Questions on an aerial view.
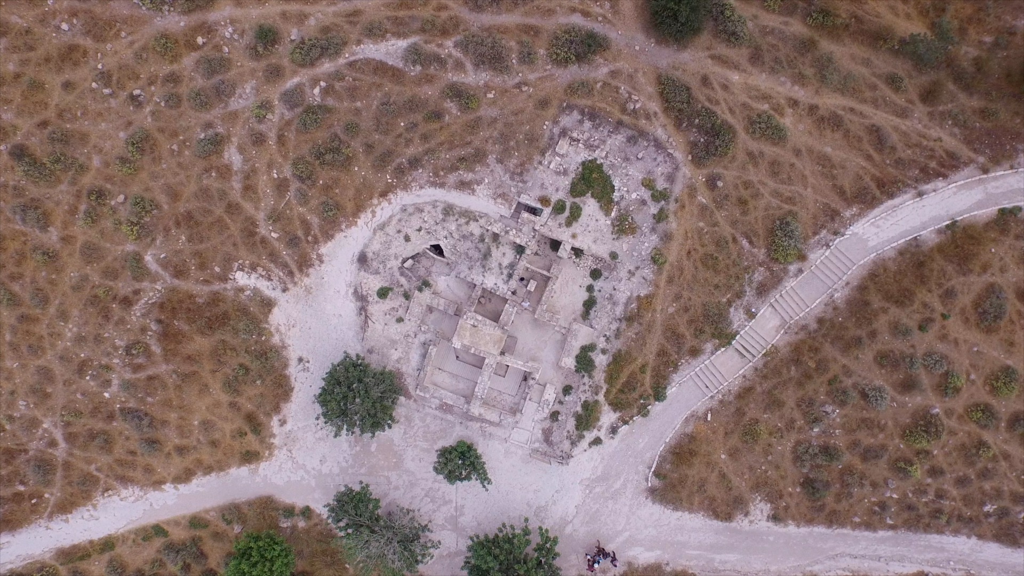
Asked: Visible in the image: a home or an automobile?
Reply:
home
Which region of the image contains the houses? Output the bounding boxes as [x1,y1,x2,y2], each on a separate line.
[452,309,509,362]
